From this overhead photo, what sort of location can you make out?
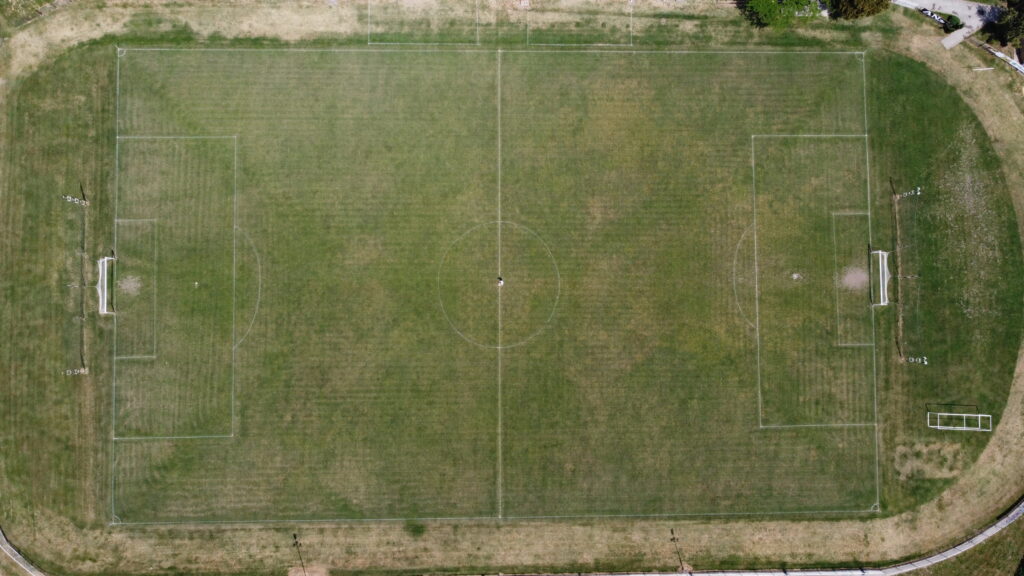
sports ground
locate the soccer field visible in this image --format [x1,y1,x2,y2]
[110,11,881,524]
